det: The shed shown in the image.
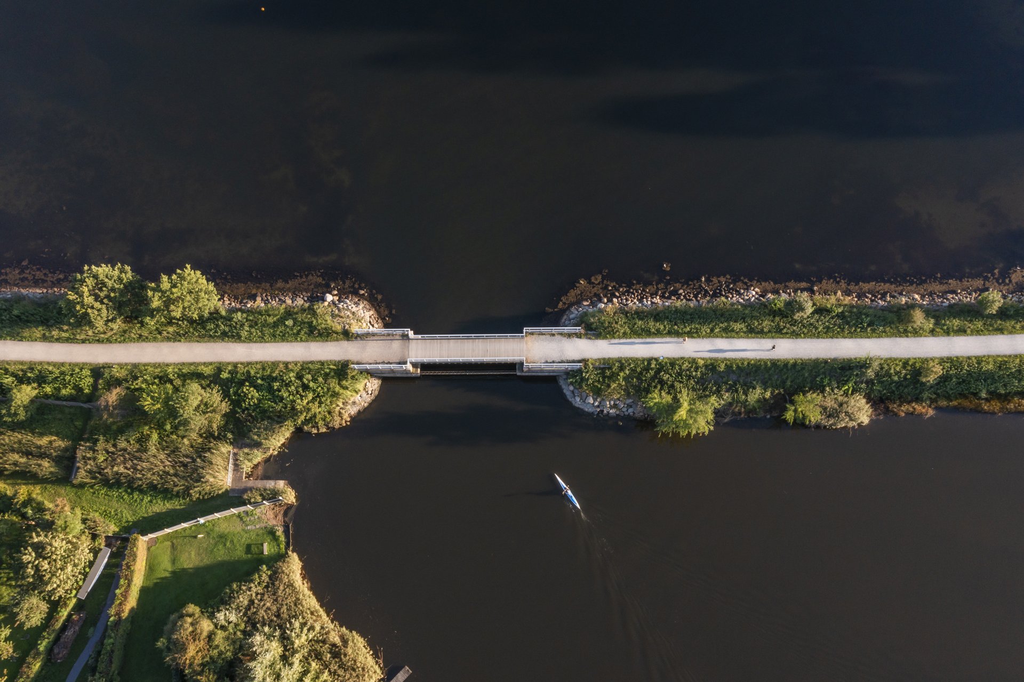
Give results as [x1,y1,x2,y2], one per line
[76,546,114,600]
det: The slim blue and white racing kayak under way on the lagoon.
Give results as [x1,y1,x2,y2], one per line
[555,474,580,509]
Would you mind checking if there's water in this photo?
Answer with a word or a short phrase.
Yes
